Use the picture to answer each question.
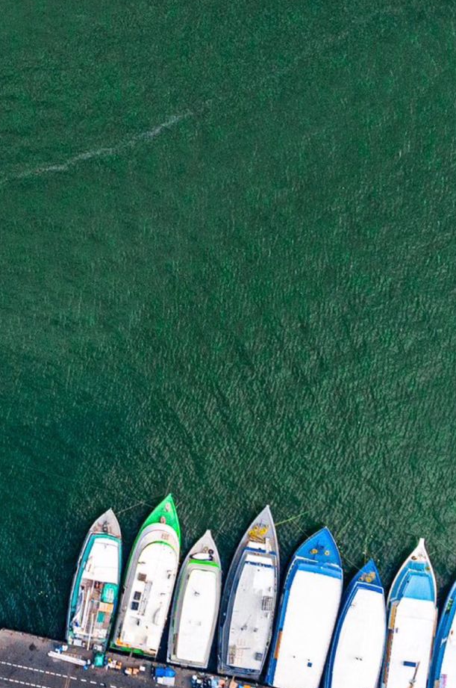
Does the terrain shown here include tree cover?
No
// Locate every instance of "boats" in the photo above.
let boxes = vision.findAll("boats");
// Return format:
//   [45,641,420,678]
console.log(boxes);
[324,559,387,688]
[110,494,181,658]
[379,536,437,688]
[66,508,122,650]
[167,527,222,667]
[190,553,213,562]
[429,582,456,688]
[265,527,343,688]
[217,506,280,680]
